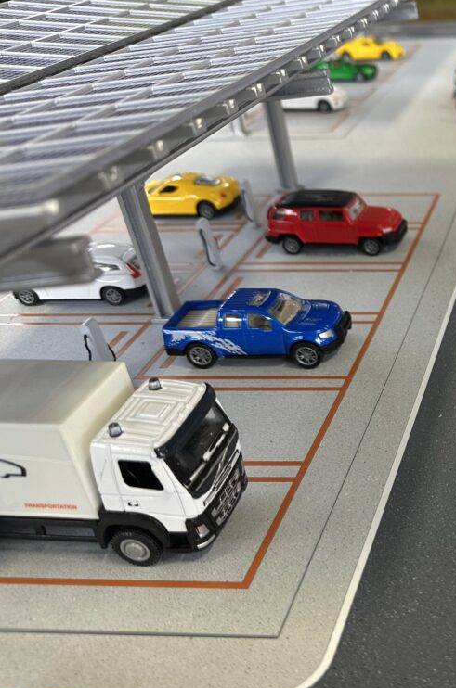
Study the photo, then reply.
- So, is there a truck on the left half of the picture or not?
Yes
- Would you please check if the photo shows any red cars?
Yes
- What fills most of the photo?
paved ground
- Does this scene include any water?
No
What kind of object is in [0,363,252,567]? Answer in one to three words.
truck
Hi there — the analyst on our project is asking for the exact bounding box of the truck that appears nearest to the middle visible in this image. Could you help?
[161,283,352,366]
